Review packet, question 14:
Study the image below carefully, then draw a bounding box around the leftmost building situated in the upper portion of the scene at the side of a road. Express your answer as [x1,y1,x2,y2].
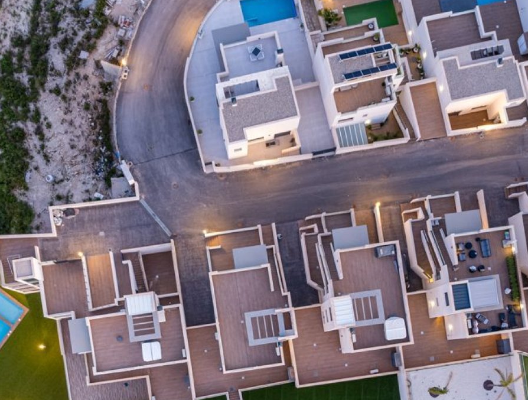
[213,23,301,157]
